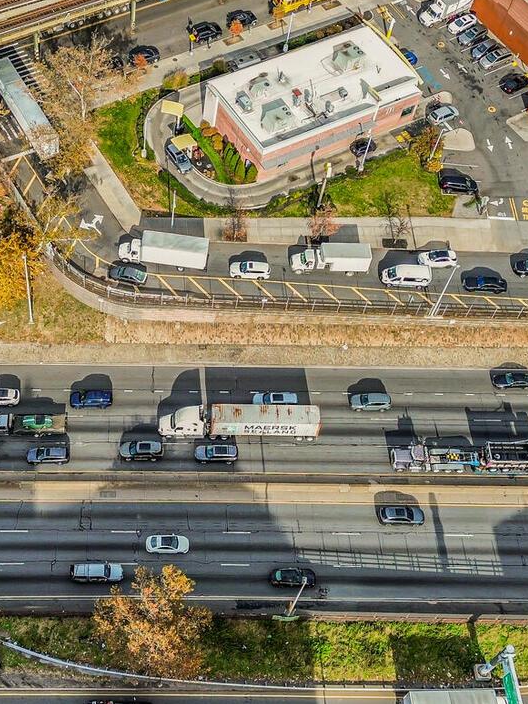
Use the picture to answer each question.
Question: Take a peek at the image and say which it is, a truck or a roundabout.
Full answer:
It is a truck that can be seen here.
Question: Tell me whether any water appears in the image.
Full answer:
No, water can't be seen anywhere here.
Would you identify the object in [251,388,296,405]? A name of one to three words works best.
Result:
car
